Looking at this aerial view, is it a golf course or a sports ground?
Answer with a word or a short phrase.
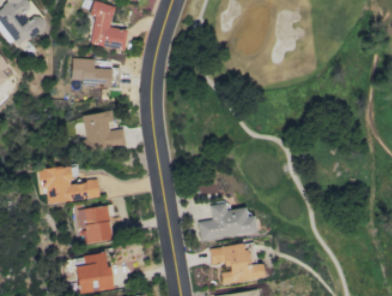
golf course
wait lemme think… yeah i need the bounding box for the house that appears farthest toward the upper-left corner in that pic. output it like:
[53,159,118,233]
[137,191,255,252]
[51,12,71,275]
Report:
[0,0,46,46]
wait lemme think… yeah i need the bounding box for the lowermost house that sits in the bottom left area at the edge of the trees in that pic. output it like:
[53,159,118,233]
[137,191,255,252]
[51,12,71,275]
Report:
[76,253,114,292]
